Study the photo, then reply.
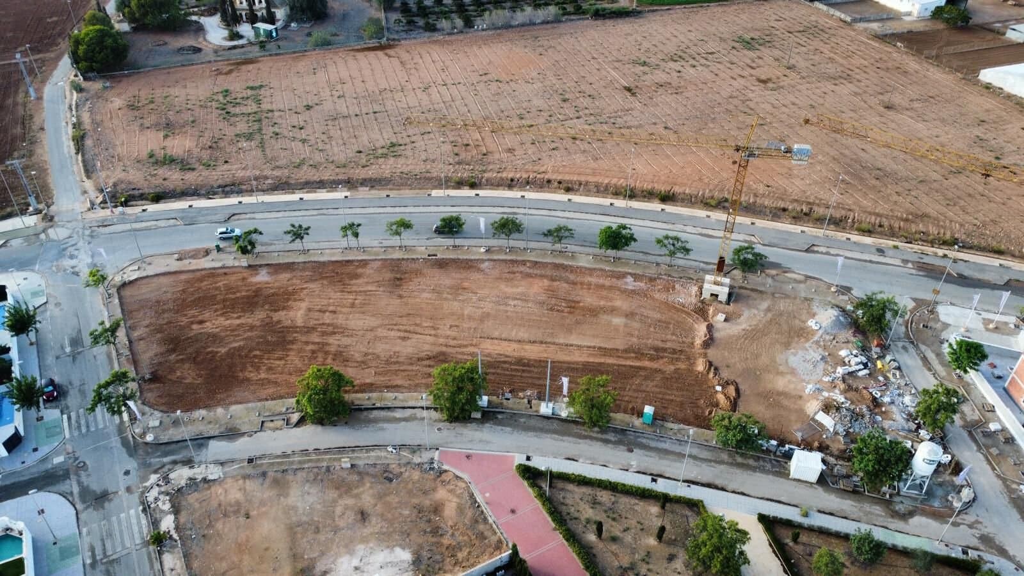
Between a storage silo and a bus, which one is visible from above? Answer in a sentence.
This aerial view contains a storage silo.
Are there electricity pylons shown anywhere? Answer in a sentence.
Yes, the photo shows an electricity pylon.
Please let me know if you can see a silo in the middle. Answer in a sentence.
No, I see no silo in the middle.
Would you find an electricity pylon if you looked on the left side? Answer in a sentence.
Yes, on the left side there is an electricity pylon.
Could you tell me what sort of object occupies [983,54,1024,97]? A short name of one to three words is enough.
greenhouse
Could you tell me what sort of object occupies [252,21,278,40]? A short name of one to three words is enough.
building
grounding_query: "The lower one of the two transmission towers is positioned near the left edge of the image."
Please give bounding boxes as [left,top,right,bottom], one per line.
[3,157,41,211]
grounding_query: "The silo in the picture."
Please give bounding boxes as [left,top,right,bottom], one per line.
[900,441,947,496]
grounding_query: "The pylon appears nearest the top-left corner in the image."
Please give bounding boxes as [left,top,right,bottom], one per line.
[15,56,39,98]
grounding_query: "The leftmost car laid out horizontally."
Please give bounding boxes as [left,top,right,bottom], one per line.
[211,227,243,240]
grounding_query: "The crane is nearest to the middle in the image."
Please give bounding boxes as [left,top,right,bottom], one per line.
[400,113,824,275]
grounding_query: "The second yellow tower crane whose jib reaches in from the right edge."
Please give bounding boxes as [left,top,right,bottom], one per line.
[799,109,1024,186]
